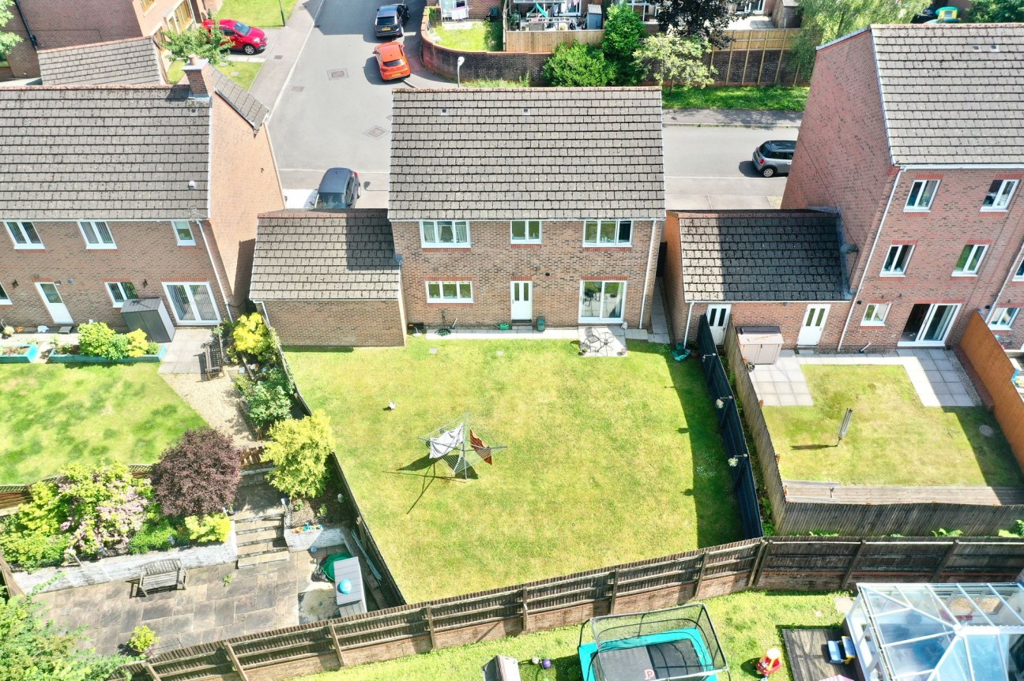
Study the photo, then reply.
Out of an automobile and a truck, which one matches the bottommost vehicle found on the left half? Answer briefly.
automobile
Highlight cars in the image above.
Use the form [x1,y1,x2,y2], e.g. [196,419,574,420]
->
[311,166,361,214]
[376,41,413,76]
[373,3,408,35]
[195,16,270,51]
[752,134,799,173]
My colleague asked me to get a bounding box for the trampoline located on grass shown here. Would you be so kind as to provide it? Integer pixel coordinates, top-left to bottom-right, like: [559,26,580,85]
[578,605,723,681]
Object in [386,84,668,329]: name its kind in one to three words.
house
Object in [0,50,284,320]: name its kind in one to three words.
house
